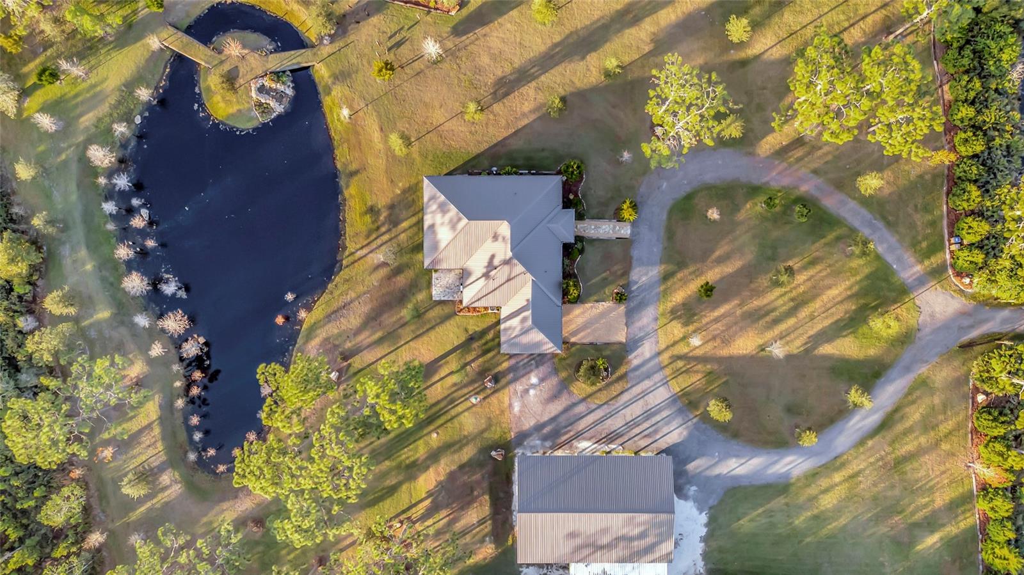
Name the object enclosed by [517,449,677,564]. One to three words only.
barn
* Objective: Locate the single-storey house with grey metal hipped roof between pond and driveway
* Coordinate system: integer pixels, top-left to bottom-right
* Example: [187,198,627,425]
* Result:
[423,174,575,353]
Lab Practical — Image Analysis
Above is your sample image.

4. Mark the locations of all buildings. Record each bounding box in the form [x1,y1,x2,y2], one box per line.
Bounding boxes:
[423,174,575,353]
[517,449,677,564]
